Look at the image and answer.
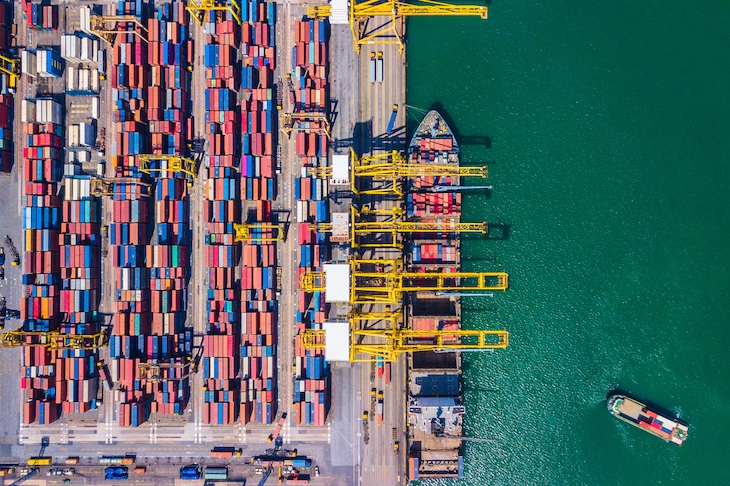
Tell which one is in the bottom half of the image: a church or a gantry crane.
gantry crane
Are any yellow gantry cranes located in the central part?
Yes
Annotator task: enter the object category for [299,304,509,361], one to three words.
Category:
container crane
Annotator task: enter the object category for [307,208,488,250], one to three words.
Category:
container crane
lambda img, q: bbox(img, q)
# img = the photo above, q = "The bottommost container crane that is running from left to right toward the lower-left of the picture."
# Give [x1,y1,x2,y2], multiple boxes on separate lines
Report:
[138,354,196,381]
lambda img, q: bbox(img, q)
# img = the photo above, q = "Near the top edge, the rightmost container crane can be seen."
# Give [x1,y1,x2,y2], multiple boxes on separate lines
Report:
[305,0,488,59]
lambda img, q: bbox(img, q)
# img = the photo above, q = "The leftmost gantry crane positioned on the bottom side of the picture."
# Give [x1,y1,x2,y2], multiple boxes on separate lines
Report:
[0,326,61,348]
